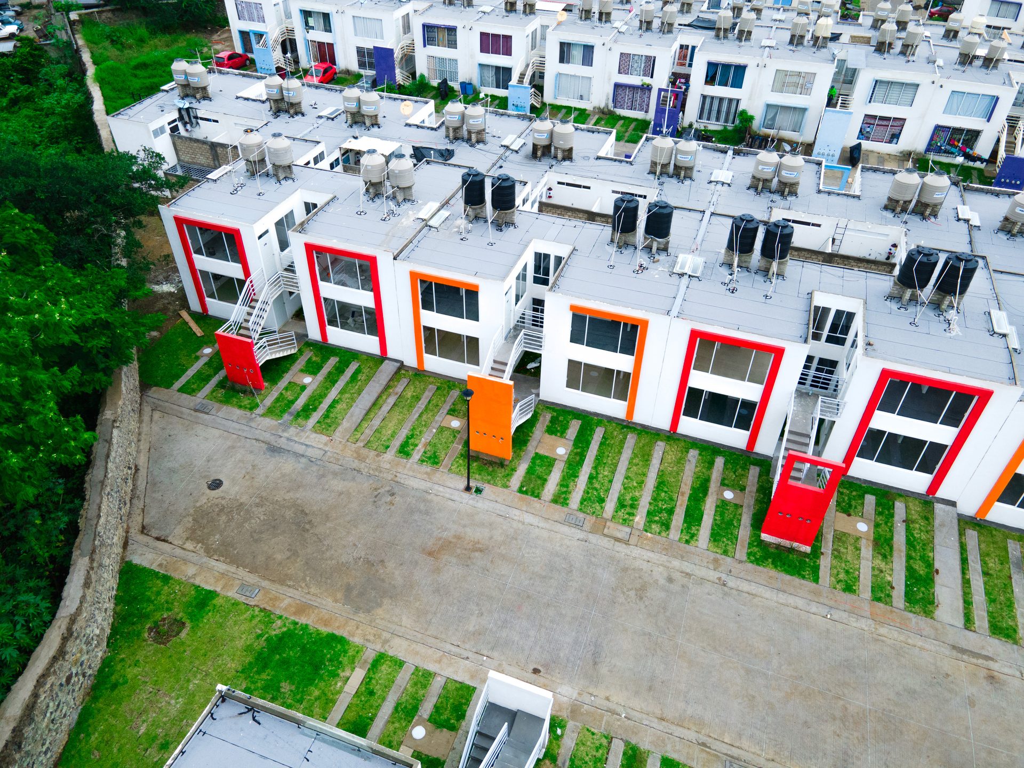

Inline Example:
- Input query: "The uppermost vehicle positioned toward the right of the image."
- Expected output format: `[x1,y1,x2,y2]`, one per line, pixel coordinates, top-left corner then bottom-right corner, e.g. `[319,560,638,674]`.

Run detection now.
[923,4,951,19]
